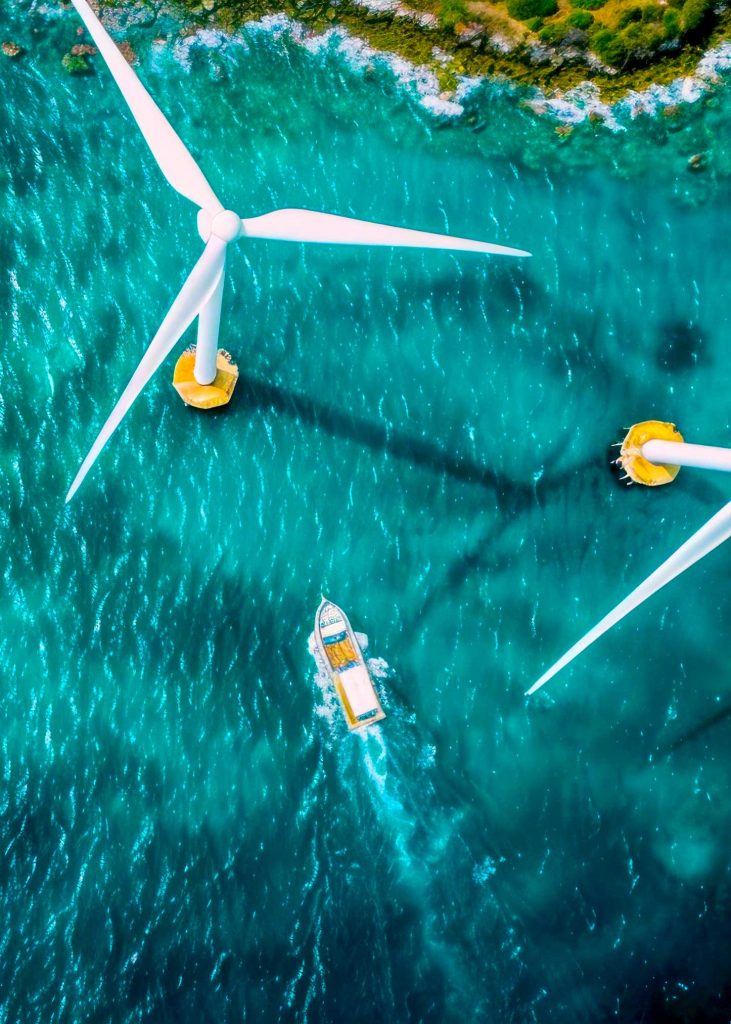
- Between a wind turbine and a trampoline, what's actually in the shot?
wind turbine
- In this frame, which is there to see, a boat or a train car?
boat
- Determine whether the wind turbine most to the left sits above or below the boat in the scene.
above it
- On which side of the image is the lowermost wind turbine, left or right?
right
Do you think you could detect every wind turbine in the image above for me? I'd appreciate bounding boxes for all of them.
[66,0,533,502]
[527,420,731,695]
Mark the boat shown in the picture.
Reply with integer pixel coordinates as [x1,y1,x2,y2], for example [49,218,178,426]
[318,595,385,730]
